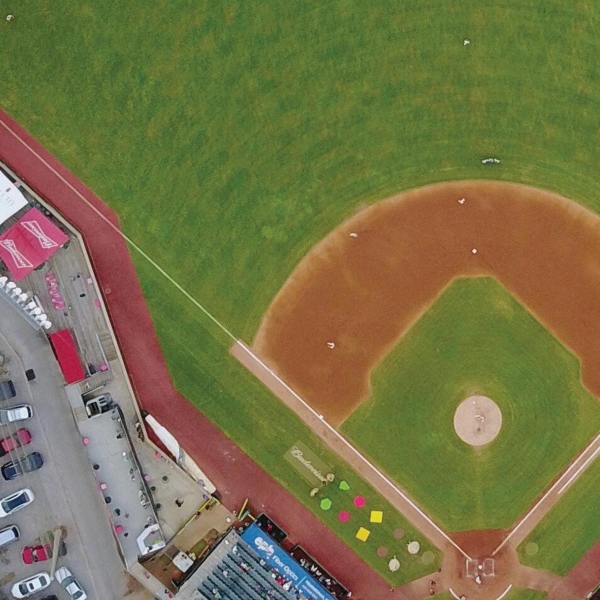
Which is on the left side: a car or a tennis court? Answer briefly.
car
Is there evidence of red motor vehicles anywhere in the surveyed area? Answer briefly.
Yes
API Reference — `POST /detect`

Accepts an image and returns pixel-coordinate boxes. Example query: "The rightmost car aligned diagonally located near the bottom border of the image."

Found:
[54,563,87,600]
